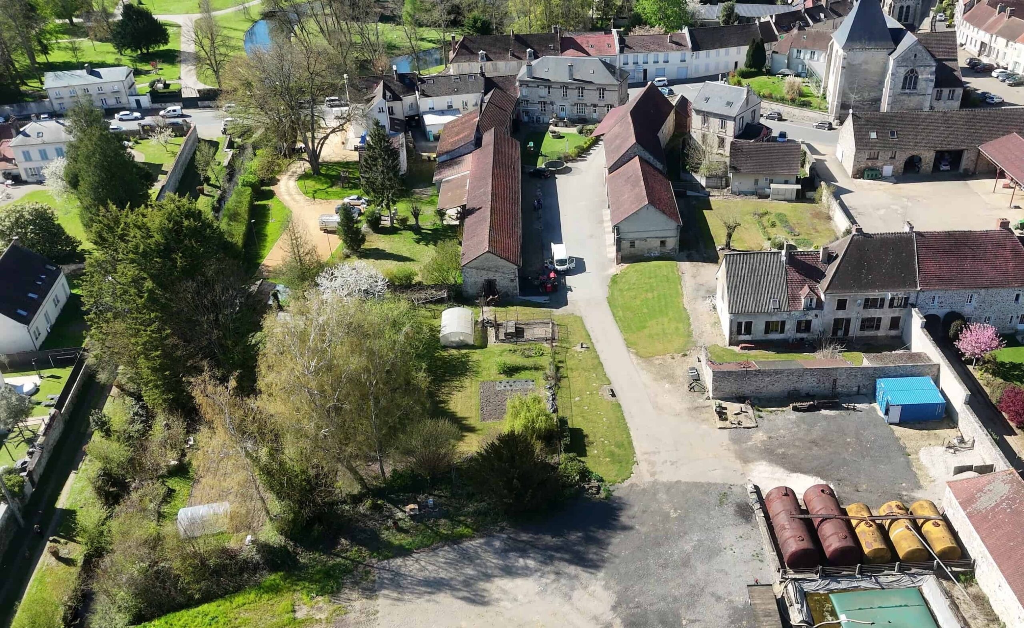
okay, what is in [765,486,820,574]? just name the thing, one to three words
storage tank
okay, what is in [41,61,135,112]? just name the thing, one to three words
house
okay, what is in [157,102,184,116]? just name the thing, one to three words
car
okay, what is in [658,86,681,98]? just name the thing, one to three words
vehicle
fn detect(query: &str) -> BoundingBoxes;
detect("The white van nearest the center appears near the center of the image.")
[546,238,577,277]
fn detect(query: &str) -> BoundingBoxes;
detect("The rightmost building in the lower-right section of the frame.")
[940,456,1024,628]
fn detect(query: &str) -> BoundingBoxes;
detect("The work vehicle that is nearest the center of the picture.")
[539,275,558,293]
